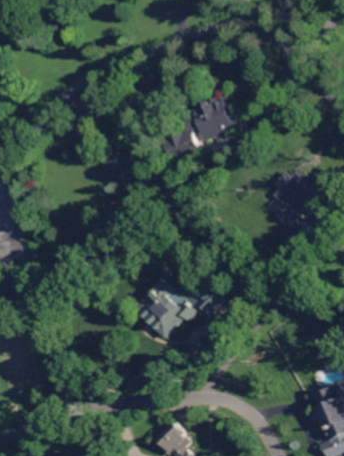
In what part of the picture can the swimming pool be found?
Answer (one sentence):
The swimming pool sits in the bottom right section of the image.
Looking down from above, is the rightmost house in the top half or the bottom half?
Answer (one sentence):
The rightmost house sits in the bottom half of the picture.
